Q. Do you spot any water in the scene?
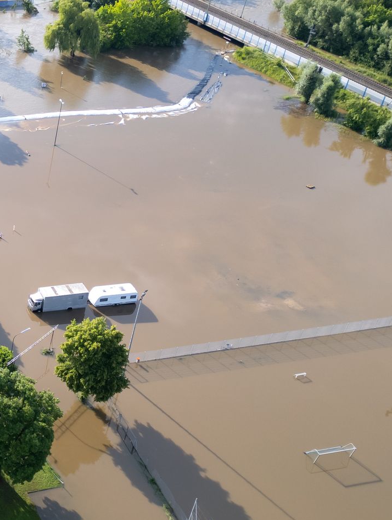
Yes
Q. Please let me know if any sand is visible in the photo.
No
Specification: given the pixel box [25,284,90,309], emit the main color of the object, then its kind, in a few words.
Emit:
white truck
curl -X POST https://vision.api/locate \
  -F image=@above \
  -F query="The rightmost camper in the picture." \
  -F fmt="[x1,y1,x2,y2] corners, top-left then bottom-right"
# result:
[89,283,138,305]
